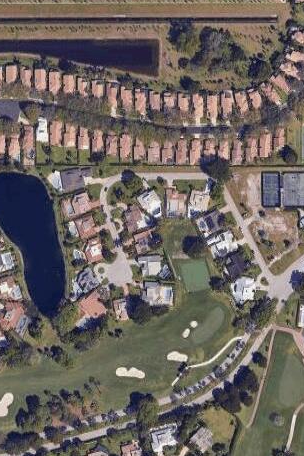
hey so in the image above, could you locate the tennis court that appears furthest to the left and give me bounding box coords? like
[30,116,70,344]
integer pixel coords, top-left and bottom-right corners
[263,173,280,206]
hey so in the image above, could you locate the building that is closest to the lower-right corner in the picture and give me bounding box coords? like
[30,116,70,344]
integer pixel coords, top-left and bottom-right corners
[188,425,215,452]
